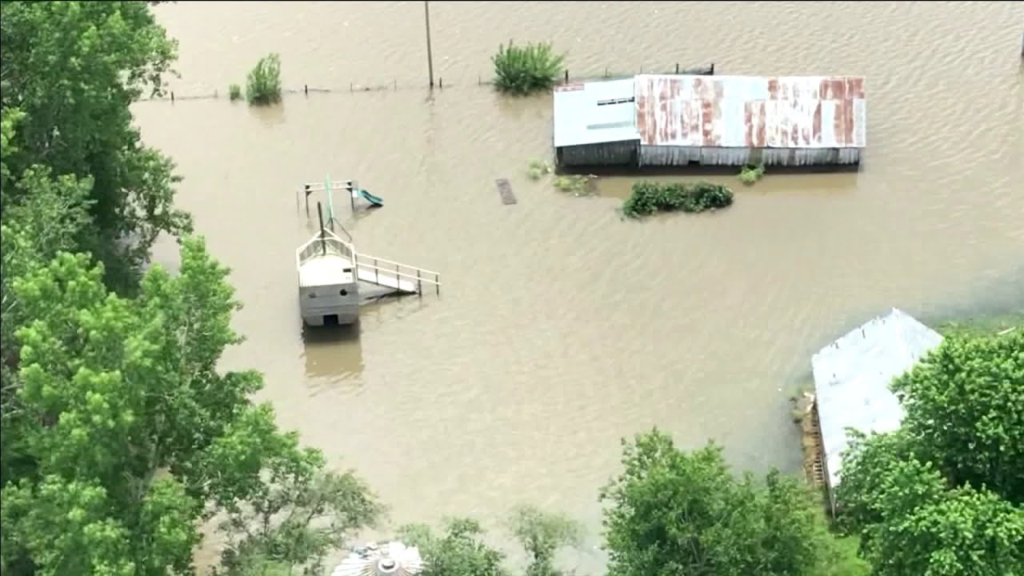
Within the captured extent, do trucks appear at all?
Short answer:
No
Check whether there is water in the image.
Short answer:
Yes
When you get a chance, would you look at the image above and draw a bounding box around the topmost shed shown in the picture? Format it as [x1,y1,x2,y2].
[555,74,866,177]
